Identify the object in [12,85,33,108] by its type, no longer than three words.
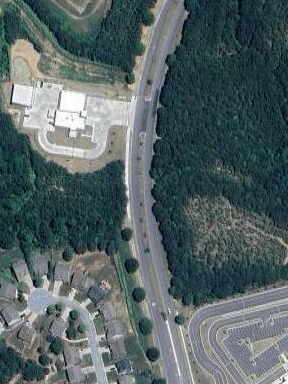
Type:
building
